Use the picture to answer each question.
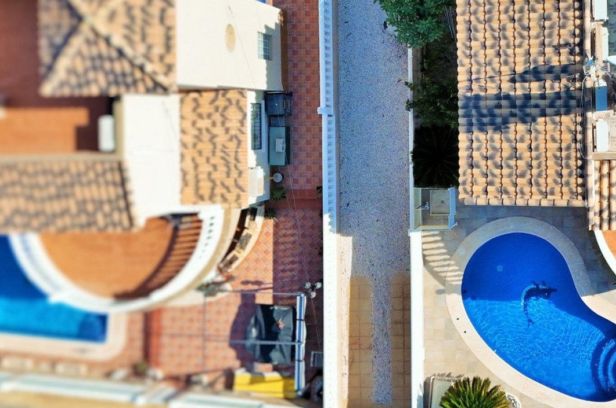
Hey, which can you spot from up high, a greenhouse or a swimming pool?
swimming pool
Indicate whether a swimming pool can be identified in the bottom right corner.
Yes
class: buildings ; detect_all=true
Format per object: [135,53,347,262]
[456,0,616,275]
[0,0,282,324]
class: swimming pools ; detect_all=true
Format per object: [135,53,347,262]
[445,217,616,408]
[0,232,123,359]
